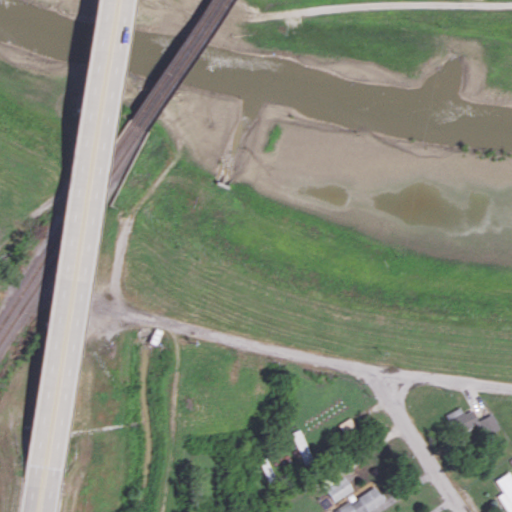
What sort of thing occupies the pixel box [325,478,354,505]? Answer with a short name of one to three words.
house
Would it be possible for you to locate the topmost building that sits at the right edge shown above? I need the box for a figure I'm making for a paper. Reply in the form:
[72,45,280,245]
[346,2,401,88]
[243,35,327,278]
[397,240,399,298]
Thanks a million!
[446,408,500,437]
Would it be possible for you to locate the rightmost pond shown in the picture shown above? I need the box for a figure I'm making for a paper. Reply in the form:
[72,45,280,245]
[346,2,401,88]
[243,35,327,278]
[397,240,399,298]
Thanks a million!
[372,183,488,228]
